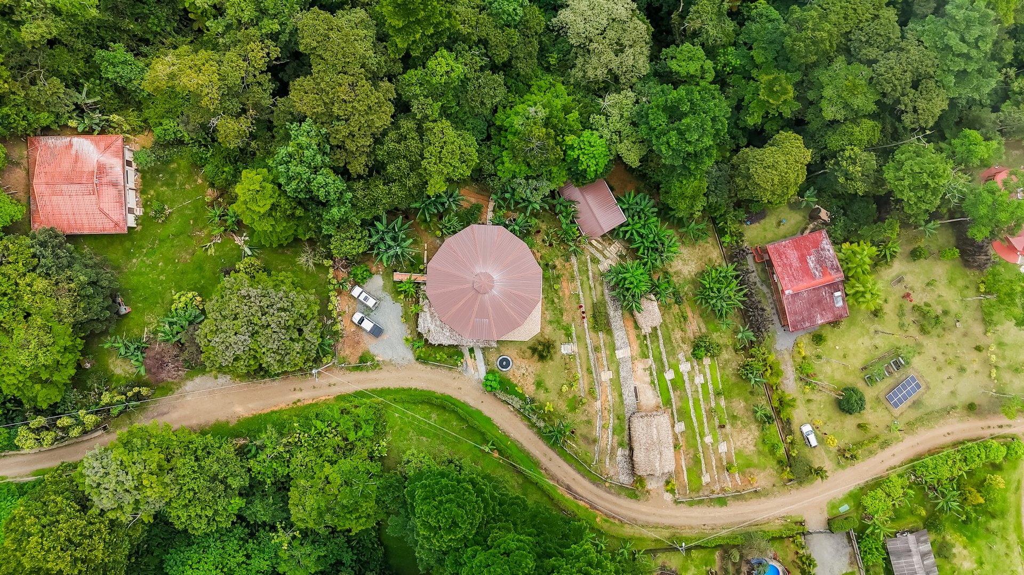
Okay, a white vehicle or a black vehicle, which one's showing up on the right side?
white vehicle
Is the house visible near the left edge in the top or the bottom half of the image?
top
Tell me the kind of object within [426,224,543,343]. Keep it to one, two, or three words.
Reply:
house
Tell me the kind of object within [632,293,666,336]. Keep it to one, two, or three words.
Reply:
shed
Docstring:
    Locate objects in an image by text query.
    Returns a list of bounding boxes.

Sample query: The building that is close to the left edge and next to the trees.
[27,134,140,234]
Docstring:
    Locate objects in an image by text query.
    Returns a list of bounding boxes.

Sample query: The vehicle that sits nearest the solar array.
[799,421,819,450]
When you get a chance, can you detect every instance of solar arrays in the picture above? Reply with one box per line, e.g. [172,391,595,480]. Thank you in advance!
[885,374,922,409]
